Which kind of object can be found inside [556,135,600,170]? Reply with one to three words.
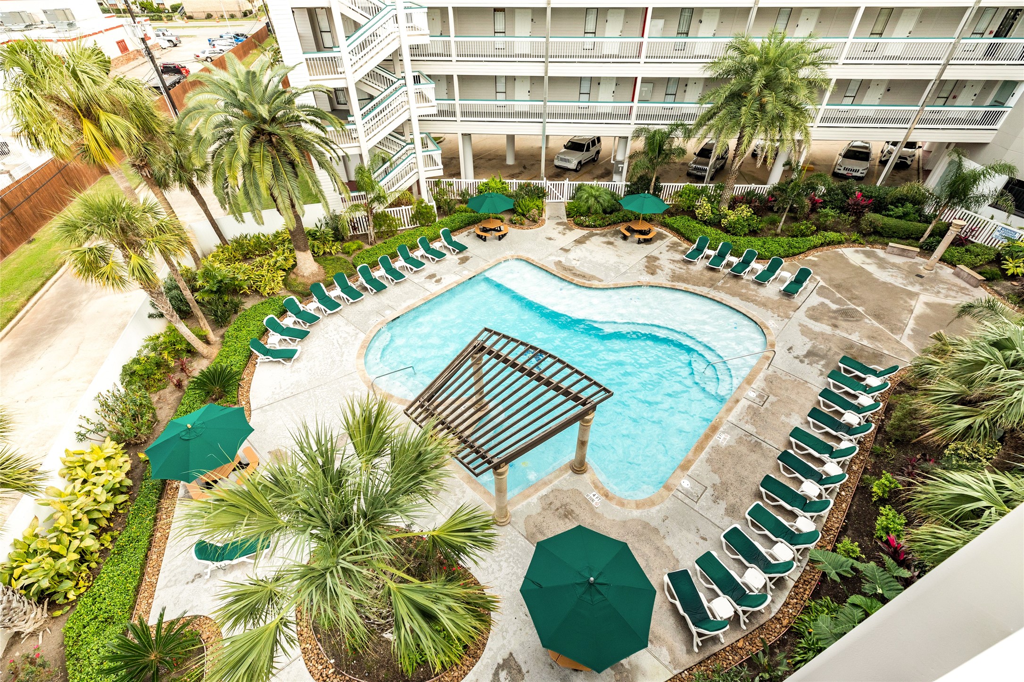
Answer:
car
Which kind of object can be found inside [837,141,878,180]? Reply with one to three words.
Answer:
car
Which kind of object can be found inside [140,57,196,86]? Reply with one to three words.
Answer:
truck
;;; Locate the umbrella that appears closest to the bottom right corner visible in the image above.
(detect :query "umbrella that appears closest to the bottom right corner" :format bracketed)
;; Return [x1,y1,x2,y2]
[519,527,656,678]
